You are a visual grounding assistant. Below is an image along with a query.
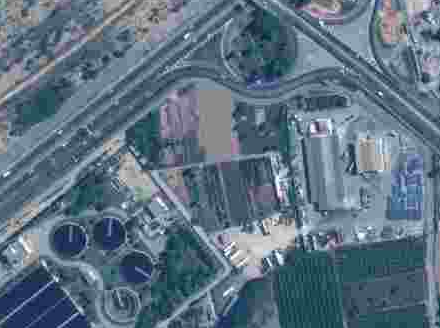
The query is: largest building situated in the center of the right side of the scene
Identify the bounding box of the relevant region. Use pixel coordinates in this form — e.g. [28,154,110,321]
[305,132,352,212]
